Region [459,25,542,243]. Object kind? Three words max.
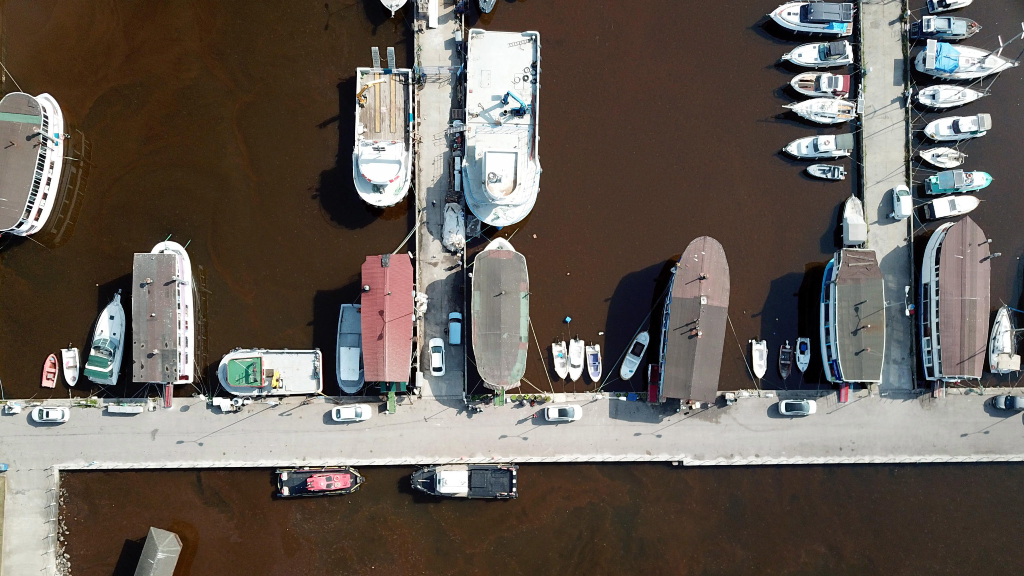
ship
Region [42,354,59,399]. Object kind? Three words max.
boat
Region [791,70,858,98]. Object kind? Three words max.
boat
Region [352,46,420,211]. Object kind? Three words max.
ship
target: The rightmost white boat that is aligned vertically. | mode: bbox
[986,298,1024,388]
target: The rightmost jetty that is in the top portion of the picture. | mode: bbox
[855,0,916,389]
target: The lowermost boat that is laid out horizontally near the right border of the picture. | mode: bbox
[914,194,987,219]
